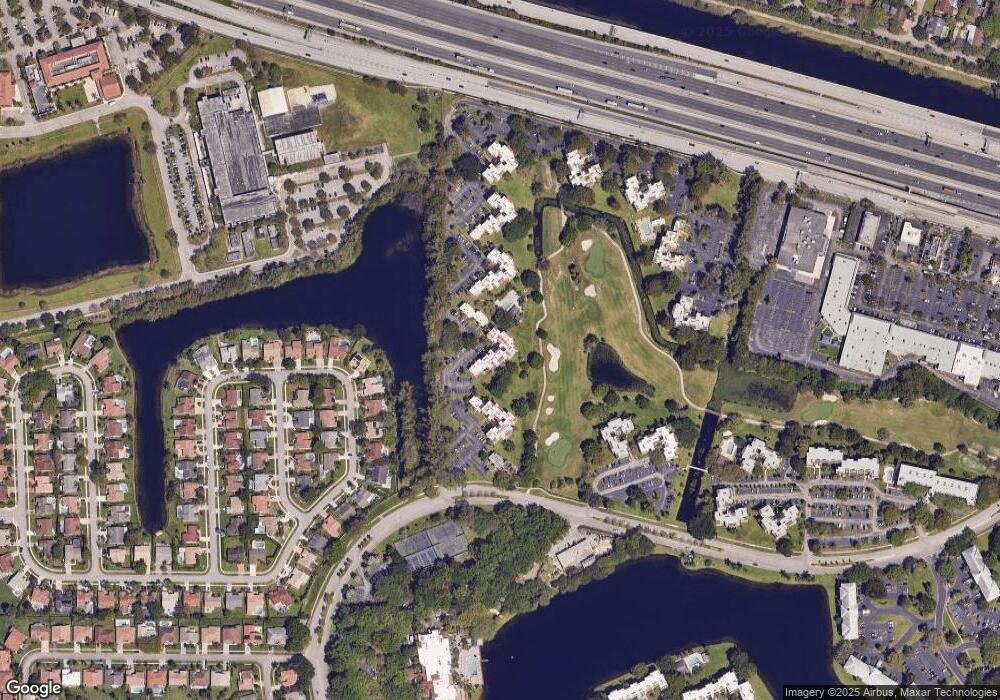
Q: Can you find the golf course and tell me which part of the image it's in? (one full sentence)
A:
The golf course is in the right part of the image.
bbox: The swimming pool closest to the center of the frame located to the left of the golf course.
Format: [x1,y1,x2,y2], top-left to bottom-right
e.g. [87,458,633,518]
[495,290,522,321]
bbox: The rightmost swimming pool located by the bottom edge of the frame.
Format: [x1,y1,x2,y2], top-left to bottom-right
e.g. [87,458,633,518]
[680,652,707,675]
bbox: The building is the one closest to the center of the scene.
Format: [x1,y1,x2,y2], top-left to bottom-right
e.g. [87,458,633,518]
[470,328,518,377]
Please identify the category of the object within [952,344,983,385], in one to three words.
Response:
building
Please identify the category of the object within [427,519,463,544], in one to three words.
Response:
tennis court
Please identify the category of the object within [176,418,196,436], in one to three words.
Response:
house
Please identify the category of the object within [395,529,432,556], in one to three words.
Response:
tennis court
